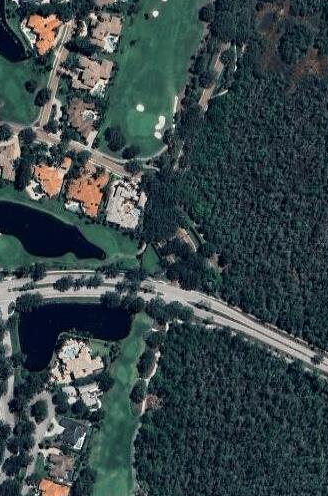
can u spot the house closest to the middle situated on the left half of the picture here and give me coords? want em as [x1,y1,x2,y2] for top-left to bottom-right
[102,179,152,233]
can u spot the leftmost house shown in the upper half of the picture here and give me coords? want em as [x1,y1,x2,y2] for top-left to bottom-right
[0,136,25,183]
